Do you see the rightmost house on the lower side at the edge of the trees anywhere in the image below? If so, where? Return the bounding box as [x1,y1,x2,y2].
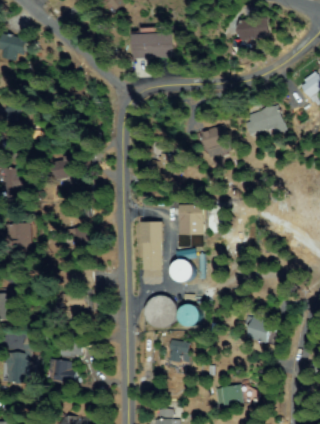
[246,314,276,342]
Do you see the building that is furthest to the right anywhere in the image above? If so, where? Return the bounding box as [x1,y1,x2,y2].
[300,72,320,106]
